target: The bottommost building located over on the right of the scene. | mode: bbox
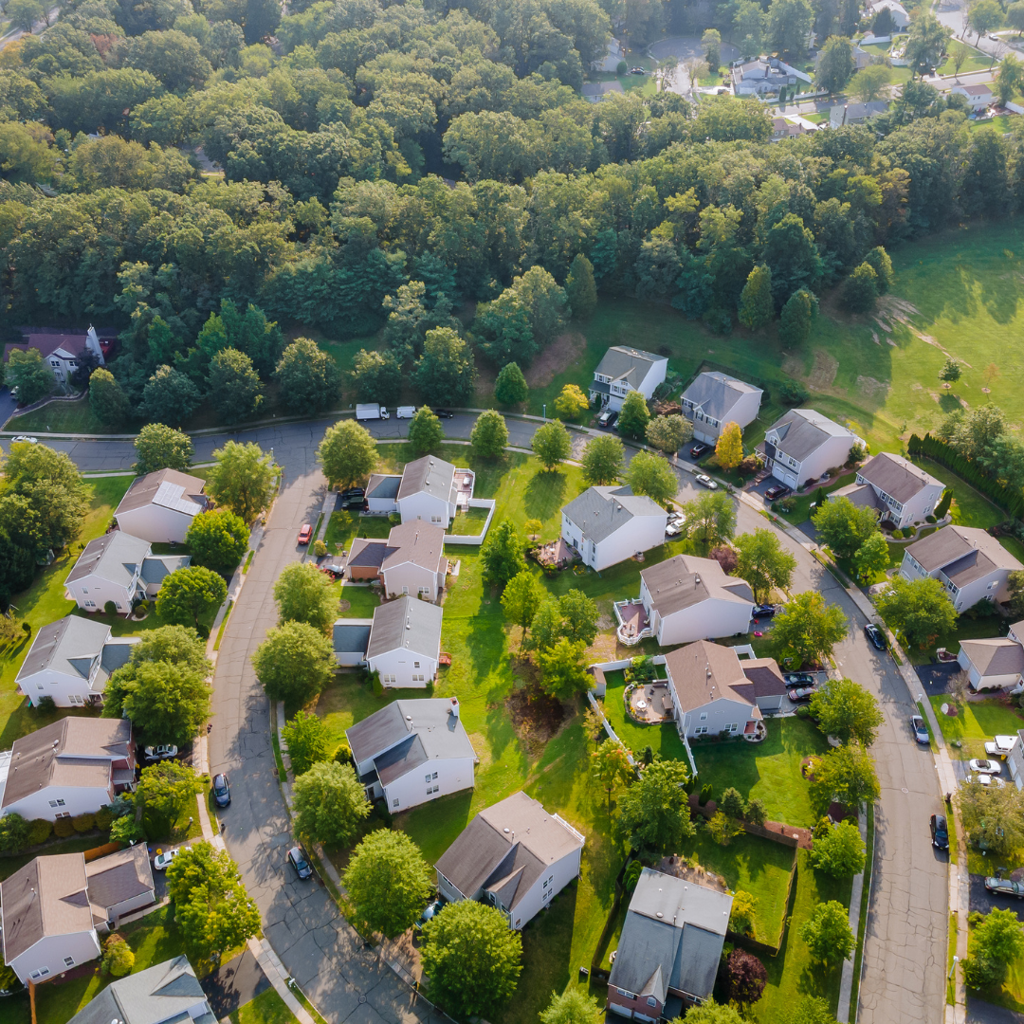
[607,867,734,1024]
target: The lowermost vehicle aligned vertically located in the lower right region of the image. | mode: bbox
[929,810,952,850]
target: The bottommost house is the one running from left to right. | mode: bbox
[44,954,201,1024]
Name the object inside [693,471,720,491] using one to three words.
car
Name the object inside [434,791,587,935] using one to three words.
house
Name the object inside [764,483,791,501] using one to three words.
car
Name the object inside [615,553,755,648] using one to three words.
house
